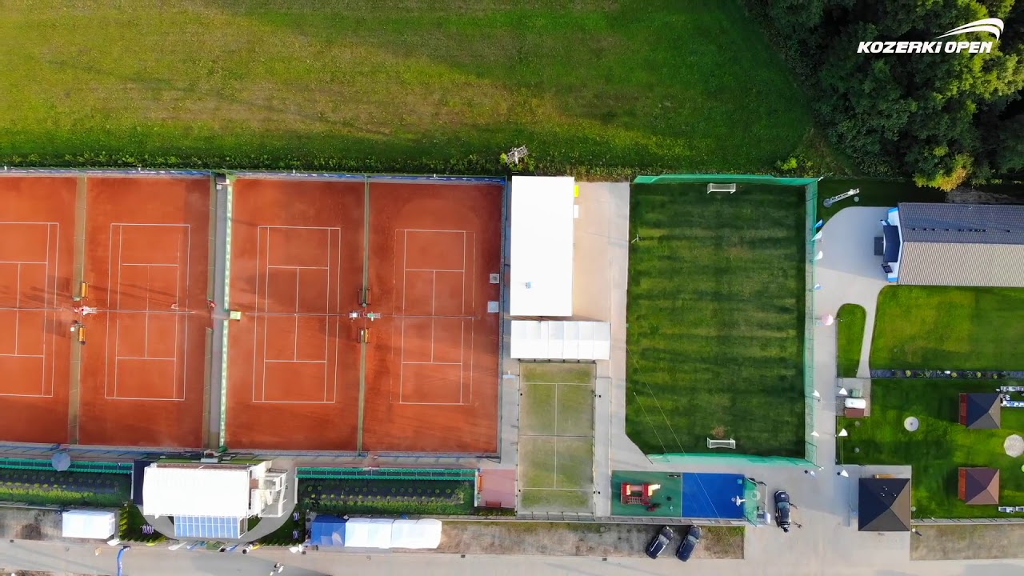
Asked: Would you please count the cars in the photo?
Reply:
three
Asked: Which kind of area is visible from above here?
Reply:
sports ground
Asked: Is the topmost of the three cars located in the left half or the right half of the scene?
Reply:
right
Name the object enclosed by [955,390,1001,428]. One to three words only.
gazebo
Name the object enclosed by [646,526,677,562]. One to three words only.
car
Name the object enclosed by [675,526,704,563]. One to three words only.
car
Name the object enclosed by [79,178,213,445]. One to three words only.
tennis court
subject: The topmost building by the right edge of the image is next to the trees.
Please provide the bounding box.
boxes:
[876,200,1024,289]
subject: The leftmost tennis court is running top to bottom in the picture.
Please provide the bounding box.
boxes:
[0,178,86,441]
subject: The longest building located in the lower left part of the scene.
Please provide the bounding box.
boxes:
[142,455,294,539]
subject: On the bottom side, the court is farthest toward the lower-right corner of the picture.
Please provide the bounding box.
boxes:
[681,472,745,519]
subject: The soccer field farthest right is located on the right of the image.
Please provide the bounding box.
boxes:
[628,184,804,458]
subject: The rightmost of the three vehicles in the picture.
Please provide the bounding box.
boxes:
[775,492,799,533]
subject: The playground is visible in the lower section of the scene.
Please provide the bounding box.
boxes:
[611,471,682,518]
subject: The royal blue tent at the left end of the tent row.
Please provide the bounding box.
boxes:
[311,512,349,546]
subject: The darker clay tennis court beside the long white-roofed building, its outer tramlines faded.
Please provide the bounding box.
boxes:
[362,182,502,453]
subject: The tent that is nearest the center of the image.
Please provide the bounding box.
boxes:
[510,321,610,360]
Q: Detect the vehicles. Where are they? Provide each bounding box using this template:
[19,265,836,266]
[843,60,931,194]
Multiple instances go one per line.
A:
[675,526,704,563]
[775,492,799,533]
[646,526,677,562]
